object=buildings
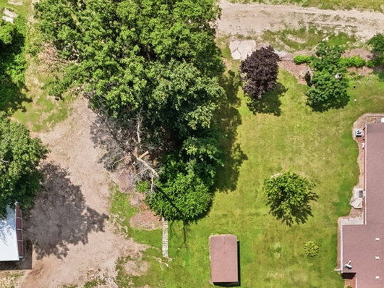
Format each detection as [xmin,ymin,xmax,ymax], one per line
[209,234,239,283]
[341,123,384,288]
[0,199,25,261]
